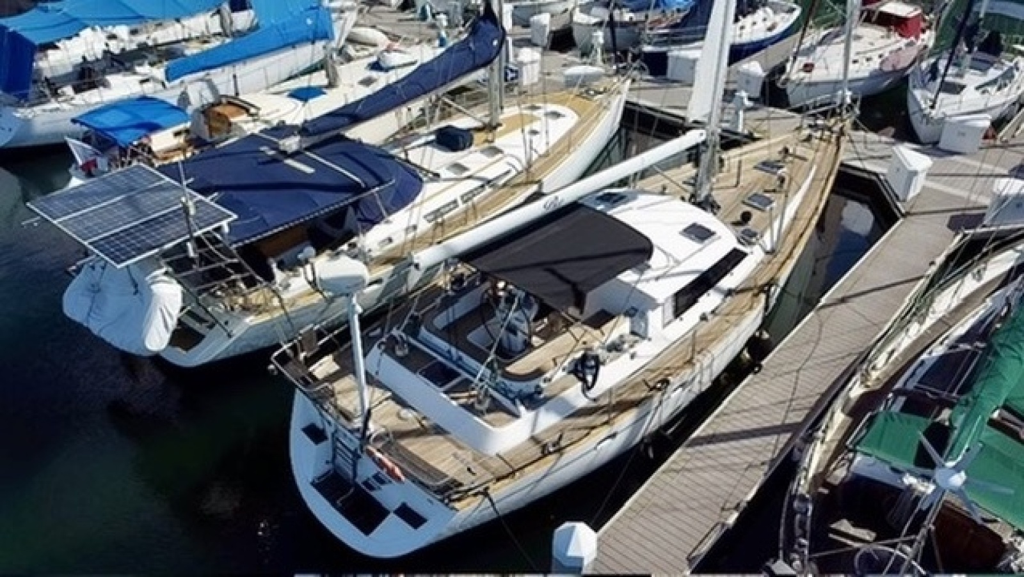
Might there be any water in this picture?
Yes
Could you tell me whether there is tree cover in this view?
No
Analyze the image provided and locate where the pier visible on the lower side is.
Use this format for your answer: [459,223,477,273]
[550,181,981,577]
